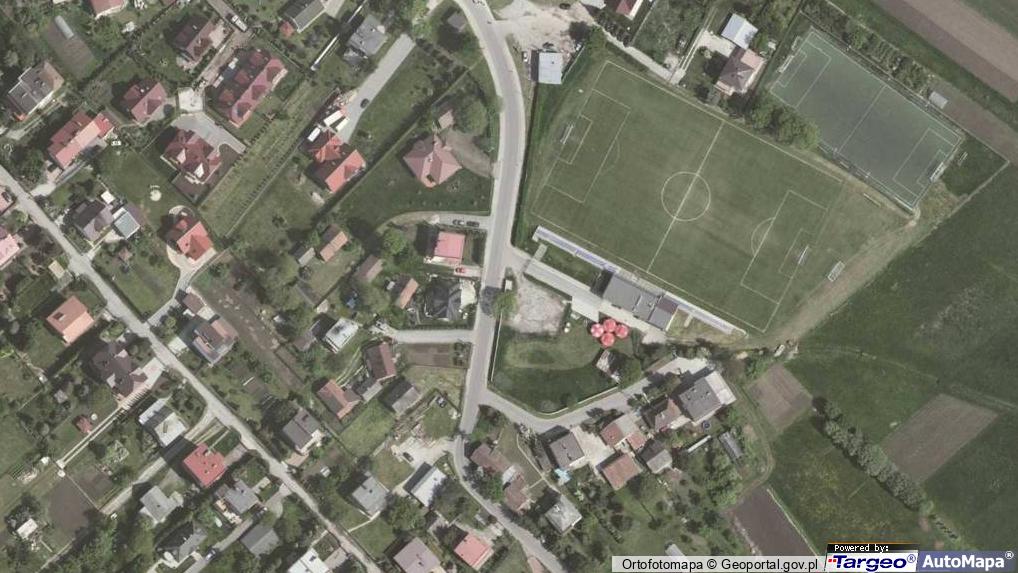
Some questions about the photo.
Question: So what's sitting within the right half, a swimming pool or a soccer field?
soccer field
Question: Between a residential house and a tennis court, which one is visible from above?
residential house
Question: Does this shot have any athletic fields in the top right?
Yes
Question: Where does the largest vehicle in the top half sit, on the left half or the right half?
left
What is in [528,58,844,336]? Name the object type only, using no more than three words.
soccer field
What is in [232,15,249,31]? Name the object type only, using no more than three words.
vehicle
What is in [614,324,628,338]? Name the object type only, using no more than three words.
umbrella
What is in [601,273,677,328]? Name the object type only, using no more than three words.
building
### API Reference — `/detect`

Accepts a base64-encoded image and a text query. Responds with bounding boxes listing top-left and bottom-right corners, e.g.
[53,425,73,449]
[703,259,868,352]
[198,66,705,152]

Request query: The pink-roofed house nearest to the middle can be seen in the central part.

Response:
[438,233,466,261]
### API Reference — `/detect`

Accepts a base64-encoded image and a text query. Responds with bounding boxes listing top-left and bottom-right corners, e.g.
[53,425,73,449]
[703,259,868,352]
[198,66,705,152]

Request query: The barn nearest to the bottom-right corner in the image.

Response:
[719,431,745,463]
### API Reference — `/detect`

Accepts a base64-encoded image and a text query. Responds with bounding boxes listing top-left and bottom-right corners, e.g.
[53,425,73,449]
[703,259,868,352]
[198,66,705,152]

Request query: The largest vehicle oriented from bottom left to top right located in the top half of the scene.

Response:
[323,107,349,128]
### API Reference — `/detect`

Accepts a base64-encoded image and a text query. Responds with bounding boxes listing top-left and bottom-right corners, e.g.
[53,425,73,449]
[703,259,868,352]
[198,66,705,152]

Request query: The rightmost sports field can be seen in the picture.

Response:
[767,24,962,205]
